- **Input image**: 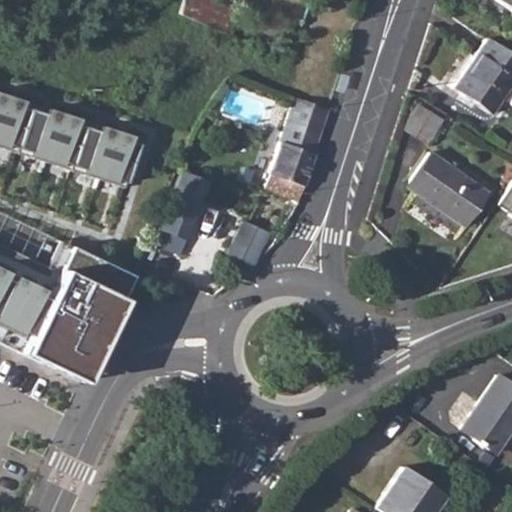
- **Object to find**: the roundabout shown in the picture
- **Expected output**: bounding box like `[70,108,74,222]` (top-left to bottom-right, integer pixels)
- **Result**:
[206,266,376,438]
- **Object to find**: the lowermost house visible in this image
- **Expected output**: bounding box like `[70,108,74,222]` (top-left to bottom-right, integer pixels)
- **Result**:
[378,466,451,512]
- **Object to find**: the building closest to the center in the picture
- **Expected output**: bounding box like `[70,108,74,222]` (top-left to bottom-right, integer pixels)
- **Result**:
[230,222,268,266]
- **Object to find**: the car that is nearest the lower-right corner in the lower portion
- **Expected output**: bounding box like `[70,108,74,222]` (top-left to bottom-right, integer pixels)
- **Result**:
[458,434,478,452]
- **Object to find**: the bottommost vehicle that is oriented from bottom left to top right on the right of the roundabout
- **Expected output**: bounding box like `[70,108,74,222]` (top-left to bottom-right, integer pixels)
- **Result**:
[386,414,406,435]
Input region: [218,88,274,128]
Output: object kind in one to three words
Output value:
swimming pool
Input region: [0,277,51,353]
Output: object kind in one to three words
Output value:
building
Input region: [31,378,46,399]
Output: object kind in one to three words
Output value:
car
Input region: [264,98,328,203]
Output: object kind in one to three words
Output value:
house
